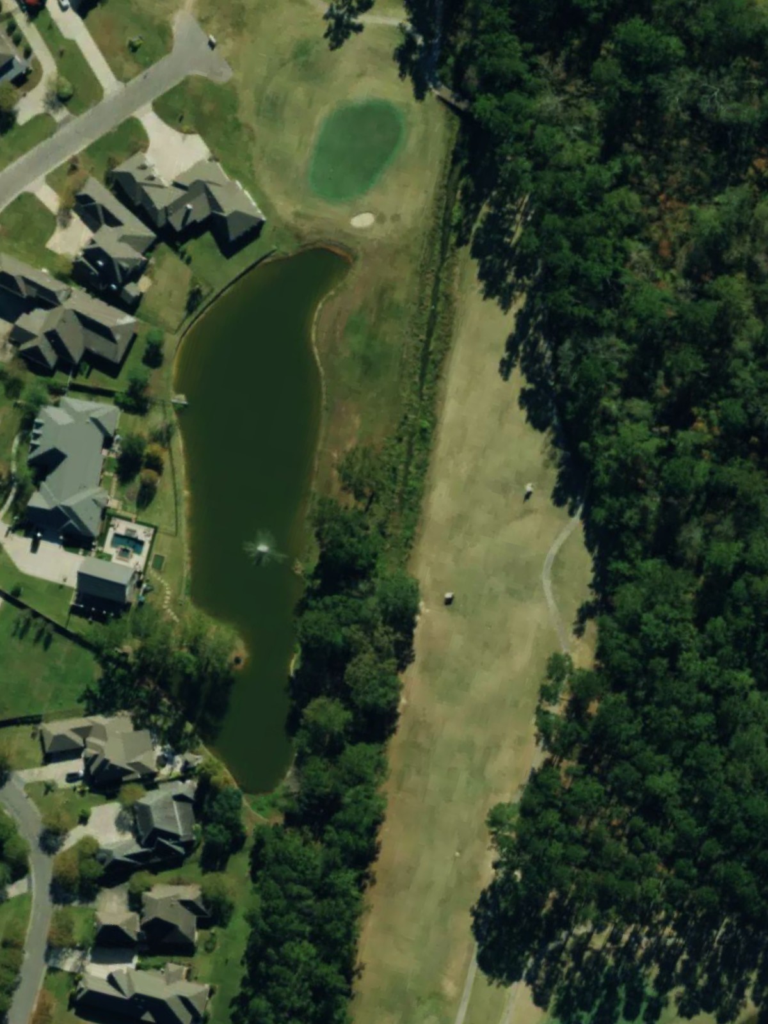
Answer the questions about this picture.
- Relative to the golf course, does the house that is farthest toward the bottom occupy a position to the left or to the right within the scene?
to the left of it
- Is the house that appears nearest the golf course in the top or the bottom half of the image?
top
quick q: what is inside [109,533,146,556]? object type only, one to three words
swimming pool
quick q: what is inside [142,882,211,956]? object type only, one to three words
house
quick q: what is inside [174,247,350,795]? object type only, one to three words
pond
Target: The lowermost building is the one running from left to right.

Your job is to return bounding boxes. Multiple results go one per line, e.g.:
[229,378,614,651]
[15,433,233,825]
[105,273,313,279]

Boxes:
[74,964,207,1024]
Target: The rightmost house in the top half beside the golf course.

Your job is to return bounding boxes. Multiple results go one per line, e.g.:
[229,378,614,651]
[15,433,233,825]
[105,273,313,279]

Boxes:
[113,150,265,244]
